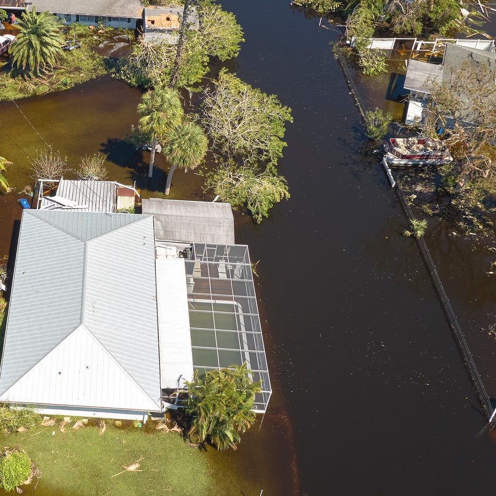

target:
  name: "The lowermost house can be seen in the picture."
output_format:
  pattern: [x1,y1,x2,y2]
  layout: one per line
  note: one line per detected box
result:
[0,209,194,434]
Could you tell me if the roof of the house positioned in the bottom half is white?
Yes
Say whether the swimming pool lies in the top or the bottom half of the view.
bottom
